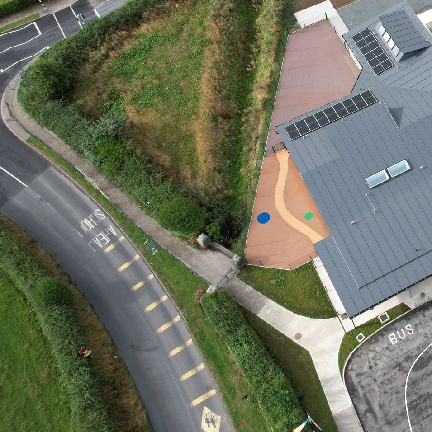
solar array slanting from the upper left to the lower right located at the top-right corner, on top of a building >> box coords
[351,29,394,74]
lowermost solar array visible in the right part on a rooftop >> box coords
[285,89,378,140]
